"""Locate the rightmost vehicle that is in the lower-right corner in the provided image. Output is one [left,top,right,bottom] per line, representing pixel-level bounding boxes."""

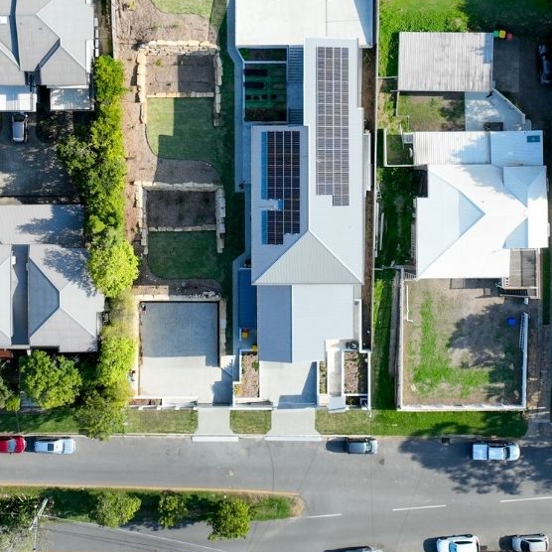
[511,534,552,552]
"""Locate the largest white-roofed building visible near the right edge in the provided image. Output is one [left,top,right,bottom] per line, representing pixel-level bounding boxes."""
[403,129,550,296]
